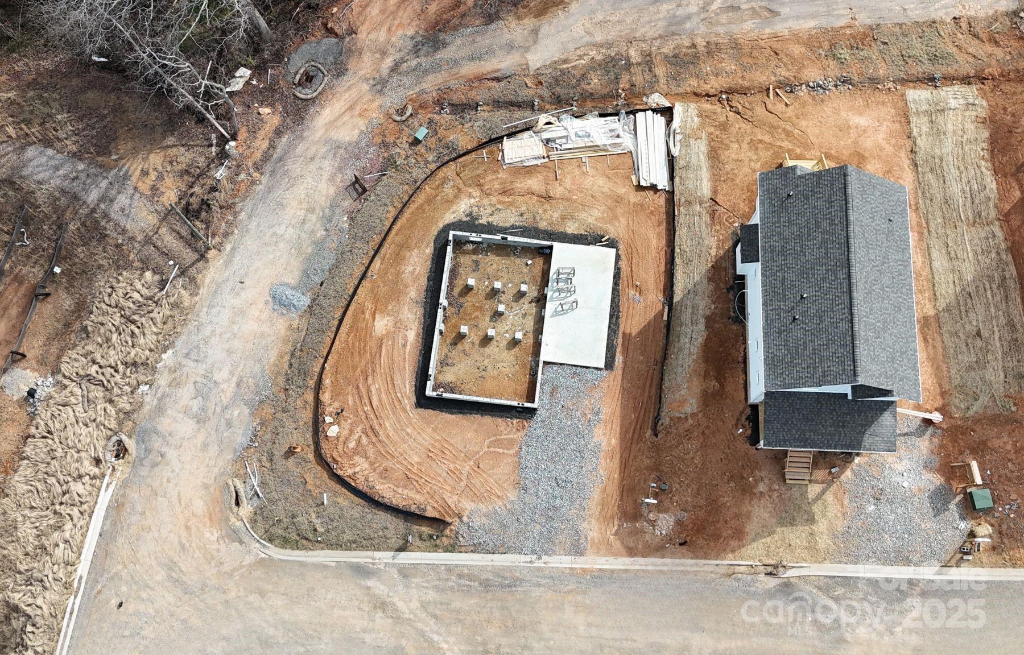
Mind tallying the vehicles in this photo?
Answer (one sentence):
No vehicles are visible.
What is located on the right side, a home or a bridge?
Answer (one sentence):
There is a home on the right side.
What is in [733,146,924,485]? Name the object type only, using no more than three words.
house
